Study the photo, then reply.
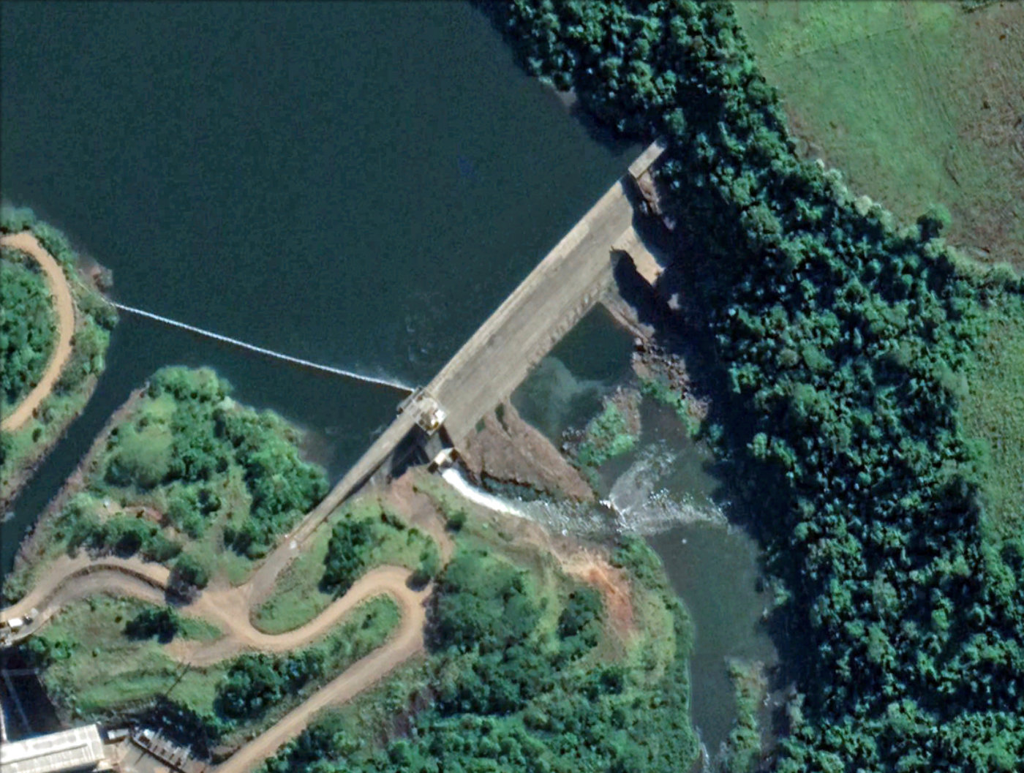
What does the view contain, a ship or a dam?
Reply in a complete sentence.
The one in the frame is a dam.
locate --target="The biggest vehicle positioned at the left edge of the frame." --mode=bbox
[7,616,29,628]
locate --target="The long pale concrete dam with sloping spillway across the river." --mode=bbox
[290,139,682,543]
